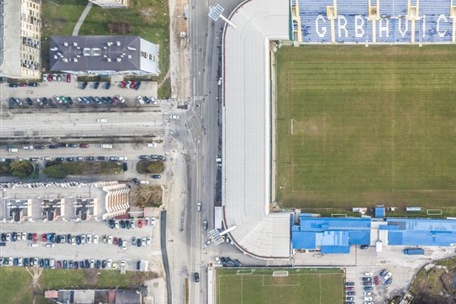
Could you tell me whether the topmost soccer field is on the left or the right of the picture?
right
